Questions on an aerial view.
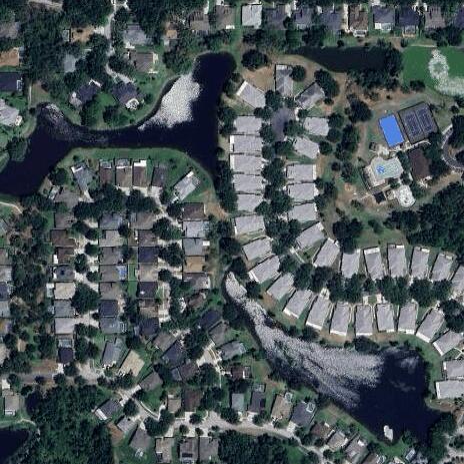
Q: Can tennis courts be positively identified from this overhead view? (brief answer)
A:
Yes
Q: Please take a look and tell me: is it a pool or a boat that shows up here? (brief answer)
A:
pool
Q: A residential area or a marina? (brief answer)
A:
residential area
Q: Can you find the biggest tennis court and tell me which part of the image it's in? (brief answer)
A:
top right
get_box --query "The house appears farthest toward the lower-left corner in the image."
[2,392,20,414]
